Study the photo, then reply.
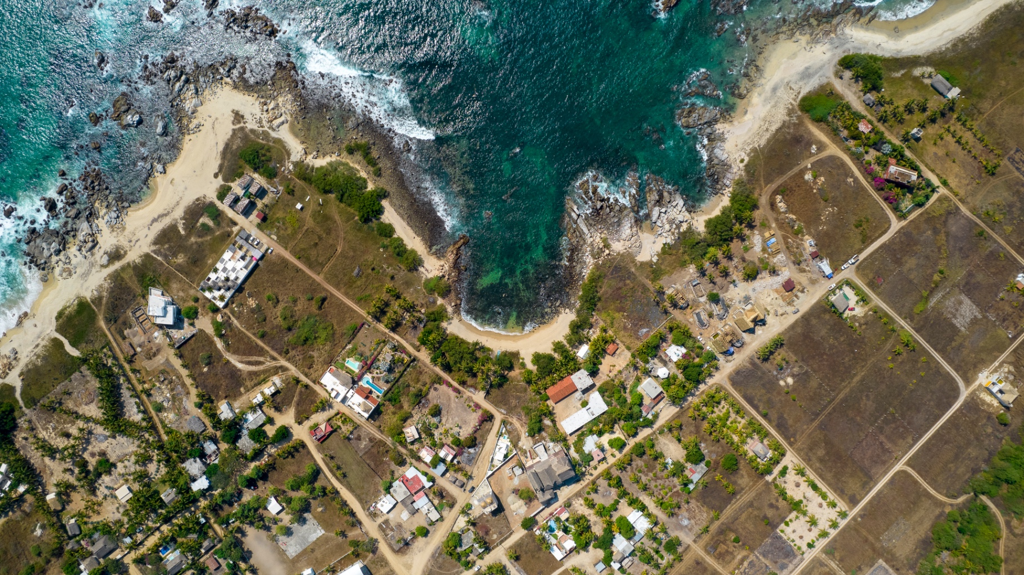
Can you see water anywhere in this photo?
Yes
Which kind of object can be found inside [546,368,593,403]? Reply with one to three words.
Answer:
barn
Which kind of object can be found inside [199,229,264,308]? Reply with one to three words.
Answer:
building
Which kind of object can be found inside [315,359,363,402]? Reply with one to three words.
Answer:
house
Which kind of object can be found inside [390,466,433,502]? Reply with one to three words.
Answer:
house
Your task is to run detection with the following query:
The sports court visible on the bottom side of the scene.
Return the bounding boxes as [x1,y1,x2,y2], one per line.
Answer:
[276,513,325,557]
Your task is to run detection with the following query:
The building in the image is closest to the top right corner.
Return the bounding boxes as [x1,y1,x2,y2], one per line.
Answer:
[929,74,961,100]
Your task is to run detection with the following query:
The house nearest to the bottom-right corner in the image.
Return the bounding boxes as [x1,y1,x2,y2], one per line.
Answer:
[981,376,1020,408]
